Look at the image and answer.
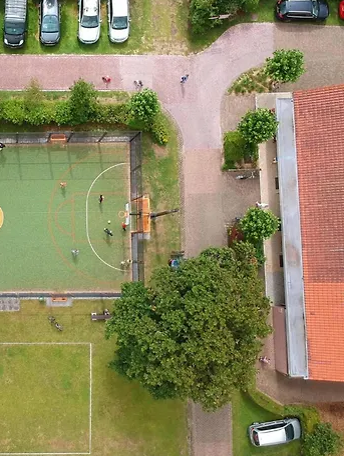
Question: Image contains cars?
Yes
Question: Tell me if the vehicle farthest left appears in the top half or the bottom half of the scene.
top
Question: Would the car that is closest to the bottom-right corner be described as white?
Yes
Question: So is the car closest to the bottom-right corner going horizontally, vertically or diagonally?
horizontally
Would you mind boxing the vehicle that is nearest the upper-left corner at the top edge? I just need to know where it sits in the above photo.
[3,0,28,49]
